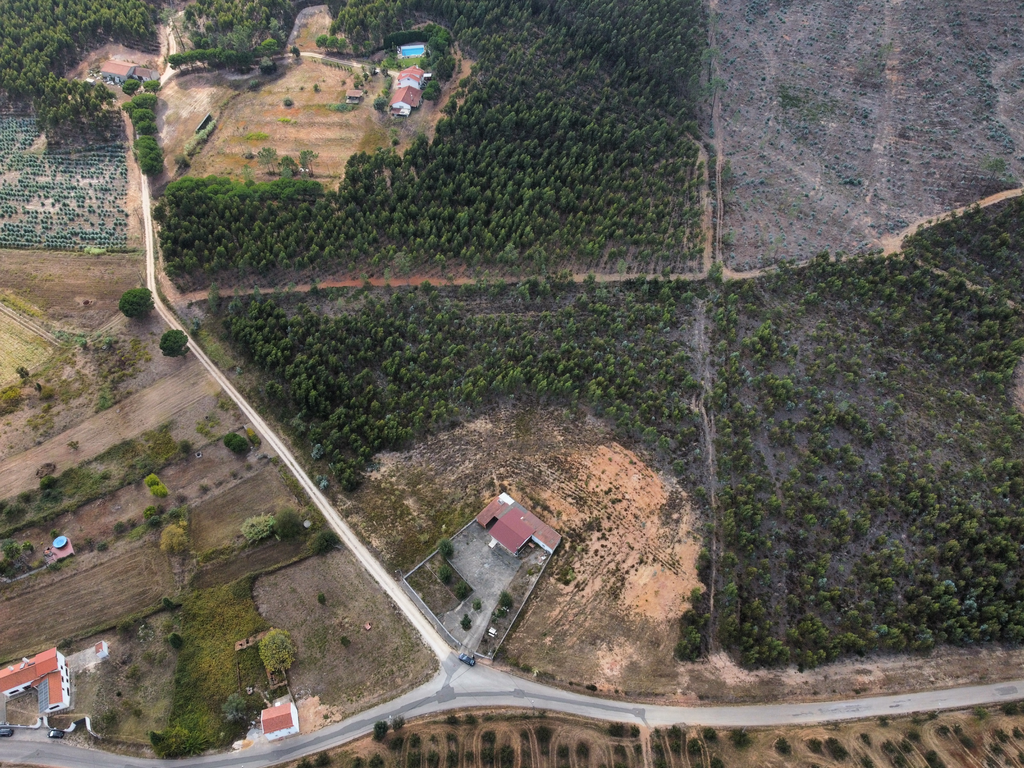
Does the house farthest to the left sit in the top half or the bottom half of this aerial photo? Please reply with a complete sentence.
Seen from above, the house farthest to the left lies in the bottom half of the view.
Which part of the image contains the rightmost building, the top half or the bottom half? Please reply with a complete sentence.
The bottom half of the photo is where the rightmost building is.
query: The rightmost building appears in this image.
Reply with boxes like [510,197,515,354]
[476,493,561,557]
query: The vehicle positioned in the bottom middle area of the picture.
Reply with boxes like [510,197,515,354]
[457,653,476,668]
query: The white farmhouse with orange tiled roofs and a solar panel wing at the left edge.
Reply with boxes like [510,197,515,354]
[0,647,69,716]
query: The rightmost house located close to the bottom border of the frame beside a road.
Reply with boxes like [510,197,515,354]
[261,702,298,738]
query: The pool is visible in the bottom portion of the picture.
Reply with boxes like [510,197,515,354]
[52,535,69,550]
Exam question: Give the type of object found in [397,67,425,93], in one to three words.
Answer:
building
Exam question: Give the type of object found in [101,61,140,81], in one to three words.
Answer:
barn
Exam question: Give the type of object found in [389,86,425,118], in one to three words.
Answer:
house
